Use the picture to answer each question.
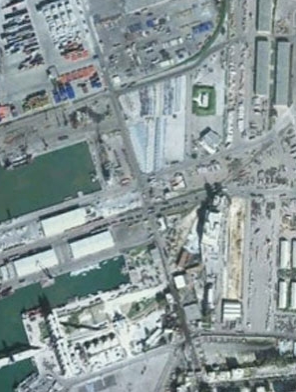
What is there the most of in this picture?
paved ground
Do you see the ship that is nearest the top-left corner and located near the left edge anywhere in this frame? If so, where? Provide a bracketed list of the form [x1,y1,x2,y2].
[4,158,33,172]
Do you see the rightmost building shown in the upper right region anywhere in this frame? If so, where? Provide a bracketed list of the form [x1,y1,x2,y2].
[277,42,294,105]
